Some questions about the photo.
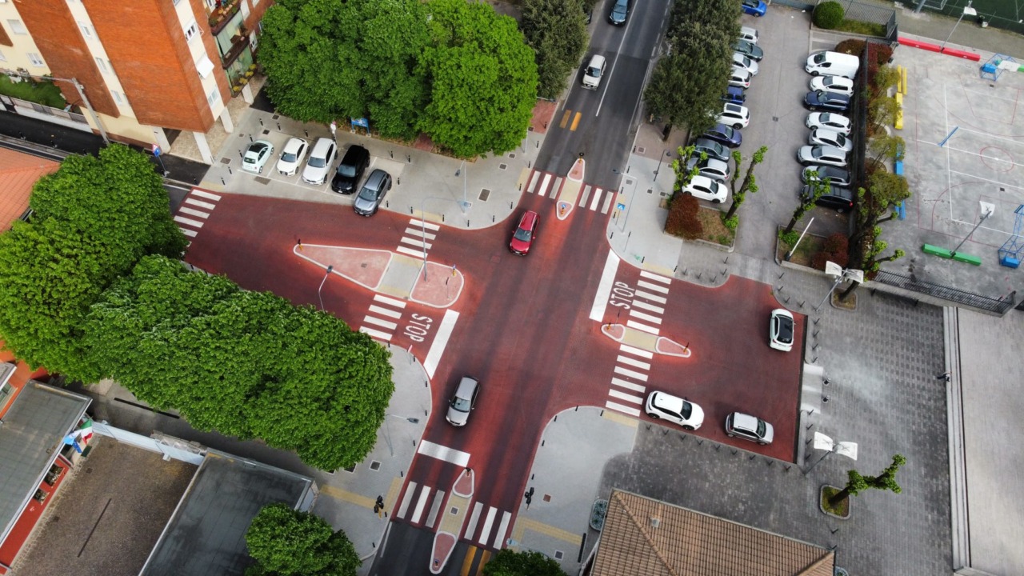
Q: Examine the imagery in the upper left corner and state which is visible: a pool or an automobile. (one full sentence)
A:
You can see an automobile in the upper left corner.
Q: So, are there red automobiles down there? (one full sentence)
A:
Yes, the image includes a red automobile.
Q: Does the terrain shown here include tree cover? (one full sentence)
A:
Yes, the picture does contain tree cover.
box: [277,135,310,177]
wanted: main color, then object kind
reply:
white car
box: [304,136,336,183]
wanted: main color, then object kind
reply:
white car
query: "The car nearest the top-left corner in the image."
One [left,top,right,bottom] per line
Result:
[242,138,276,173]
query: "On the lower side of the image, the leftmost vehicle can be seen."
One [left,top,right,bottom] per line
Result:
[446,373,481,429]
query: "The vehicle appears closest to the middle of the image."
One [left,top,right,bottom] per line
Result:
[510,209,541,257]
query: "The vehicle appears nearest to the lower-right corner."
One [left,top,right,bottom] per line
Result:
[721,412,776,449]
